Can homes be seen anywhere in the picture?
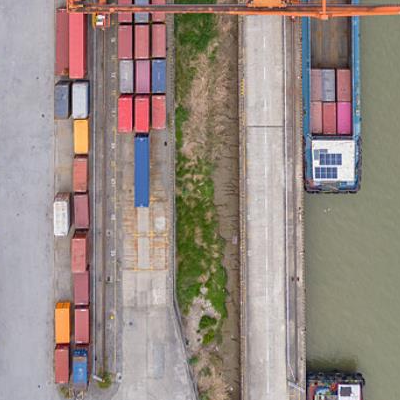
No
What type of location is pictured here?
port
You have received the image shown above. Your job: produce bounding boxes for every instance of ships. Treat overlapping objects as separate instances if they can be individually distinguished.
[303,0,364,195]
[306,367,367,400]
